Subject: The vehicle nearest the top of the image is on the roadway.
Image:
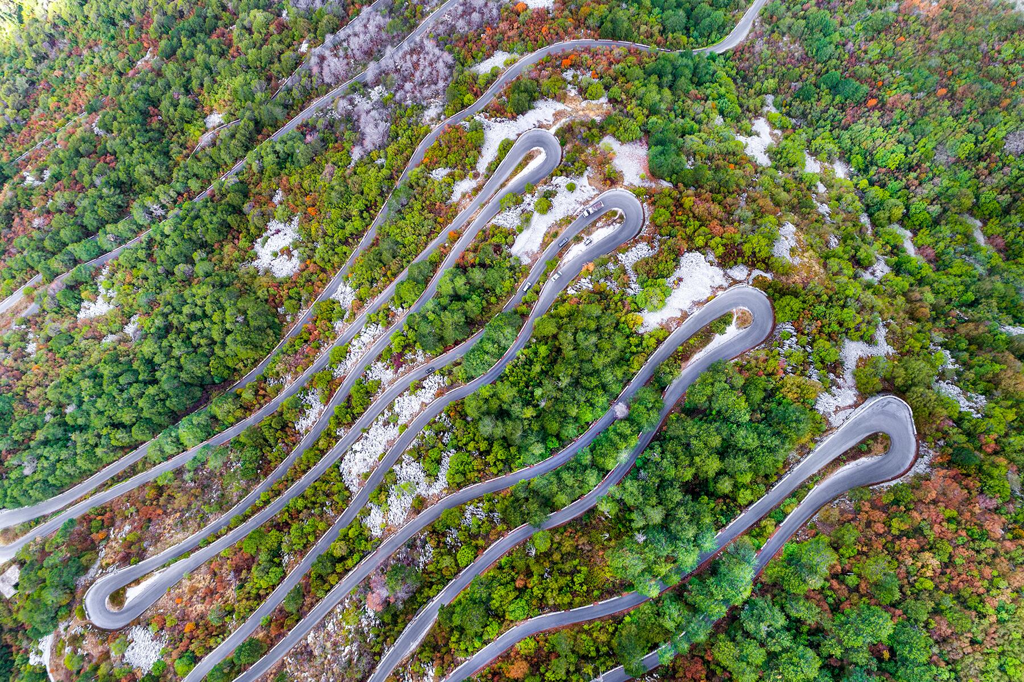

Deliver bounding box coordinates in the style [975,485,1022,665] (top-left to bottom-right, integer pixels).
[584,199,604,218]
